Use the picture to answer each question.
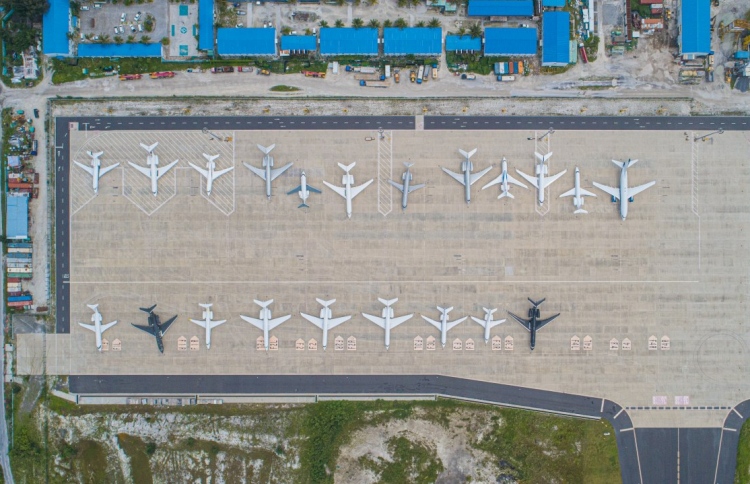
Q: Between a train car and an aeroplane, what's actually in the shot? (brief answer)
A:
aeroplane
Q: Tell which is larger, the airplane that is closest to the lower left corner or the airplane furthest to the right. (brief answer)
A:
the airplane furthest to the right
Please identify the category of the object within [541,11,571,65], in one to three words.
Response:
shed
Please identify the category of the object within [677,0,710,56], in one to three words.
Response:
shed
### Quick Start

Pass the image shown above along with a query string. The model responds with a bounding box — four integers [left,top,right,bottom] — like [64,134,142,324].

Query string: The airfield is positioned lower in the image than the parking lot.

[16,116,750,484]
